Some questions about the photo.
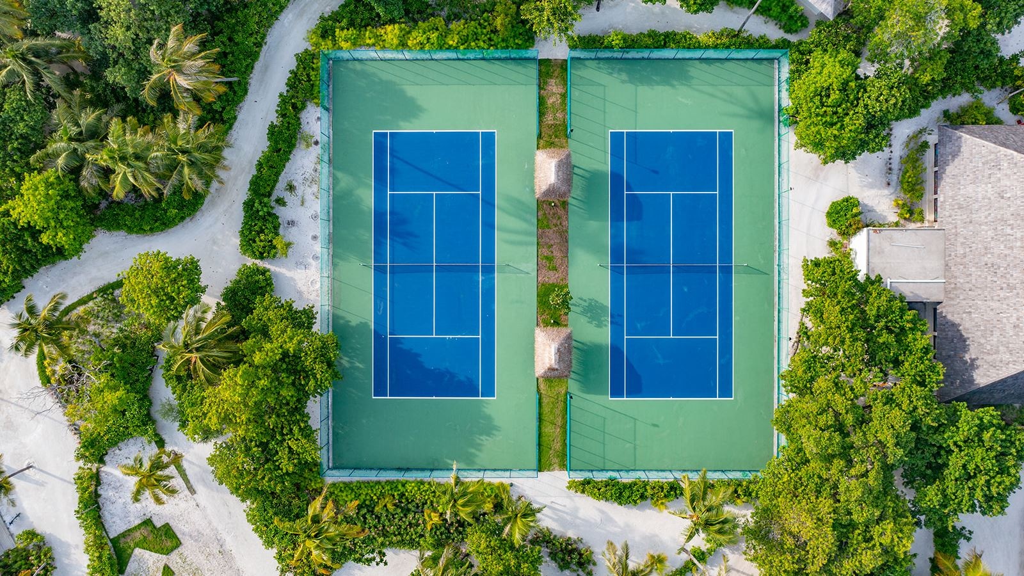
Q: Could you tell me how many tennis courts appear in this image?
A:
2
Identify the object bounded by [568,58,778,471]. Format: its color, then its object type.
green tennis court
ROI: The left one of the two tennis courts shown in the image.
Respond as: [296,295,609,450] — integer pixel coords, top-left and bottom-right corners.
[328,60,538,471]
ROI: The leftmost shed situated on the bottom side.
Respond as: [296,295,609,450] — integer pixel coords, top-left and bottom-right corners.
[534,326,573,379]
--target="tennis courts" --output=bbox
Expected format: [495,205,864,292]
[328,60,538,471]
[568,58,778,471]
